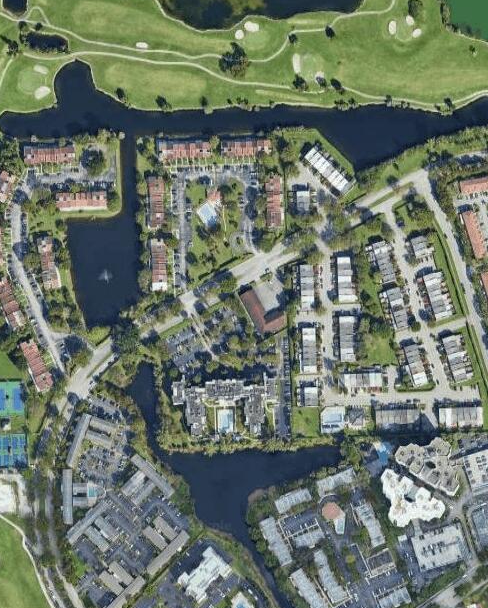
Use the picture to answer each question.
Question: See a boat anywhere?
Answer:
No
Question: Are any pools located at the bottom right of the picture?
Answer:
Yes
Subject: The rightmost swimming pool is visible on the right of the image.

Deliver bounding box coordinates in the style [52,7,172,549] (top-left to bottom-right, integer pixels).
[372,439,394,466]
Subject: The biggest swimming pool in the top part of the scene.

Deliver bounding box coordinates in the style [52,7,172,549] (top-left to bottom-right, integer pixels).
[197,200,222,228]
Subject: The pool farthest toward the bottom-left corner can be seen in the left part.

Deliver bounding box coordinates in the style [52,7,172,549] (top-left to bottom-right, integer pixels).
[88,482,106,505]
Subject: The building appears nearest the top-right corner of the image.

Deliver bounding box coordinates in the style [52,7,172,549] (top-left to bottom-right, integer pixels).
[459,175,488,197]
